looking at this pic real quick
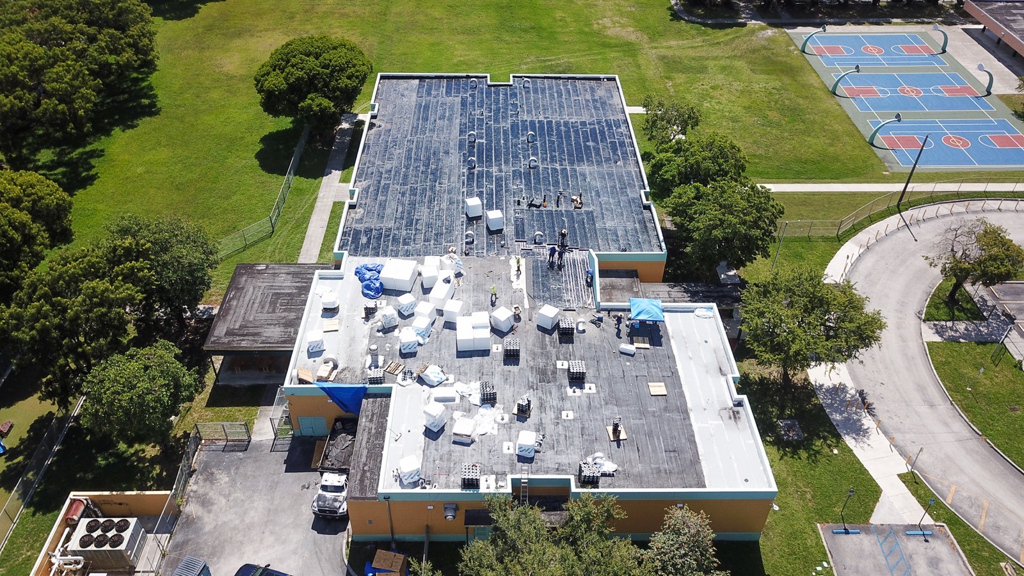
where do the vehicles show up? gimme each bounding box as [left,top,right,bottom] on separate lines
[234,564,290,576]
[313,416,352,522]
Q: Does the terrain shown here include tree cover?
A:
Yes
